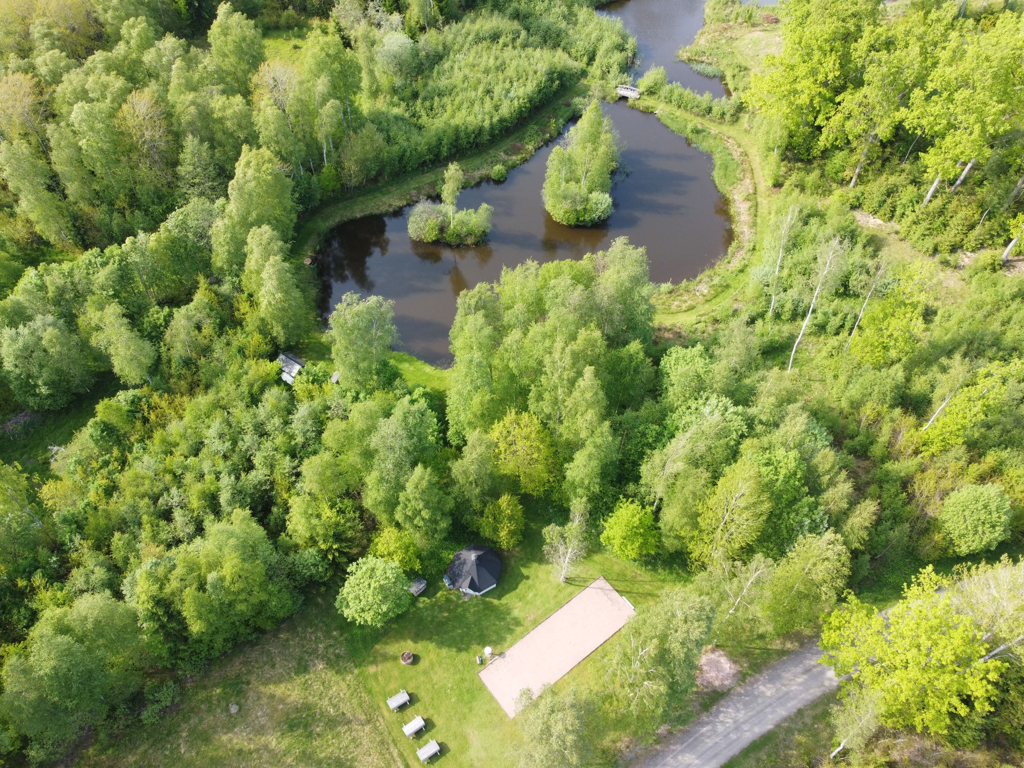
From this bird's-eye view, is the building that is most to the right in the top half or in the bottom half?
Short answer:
bottom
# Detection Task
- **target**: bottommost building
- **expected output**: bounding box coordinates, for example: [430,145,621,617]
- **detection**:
[448,544,501,603]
